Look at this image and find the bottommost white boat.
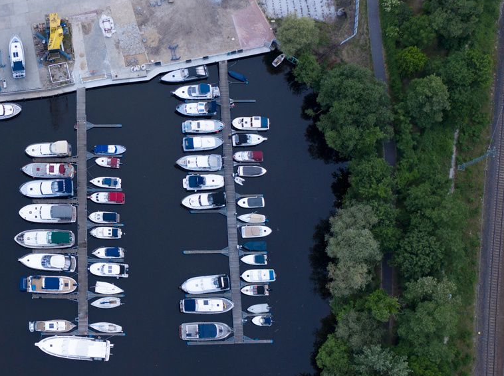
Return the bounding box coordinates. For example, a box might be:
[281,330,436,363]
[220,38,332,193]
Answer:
[34,333,112,361]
